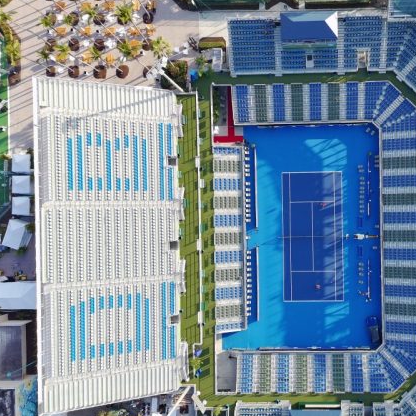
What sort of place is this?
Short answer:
sports ground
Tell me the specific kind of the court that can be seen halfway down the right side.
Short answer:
tennis court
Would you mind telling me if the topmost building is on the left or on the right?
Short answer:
right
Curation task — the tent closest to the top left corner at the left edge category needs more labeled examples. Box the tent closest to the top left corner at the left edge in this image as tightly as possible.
[12,154,37,173]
